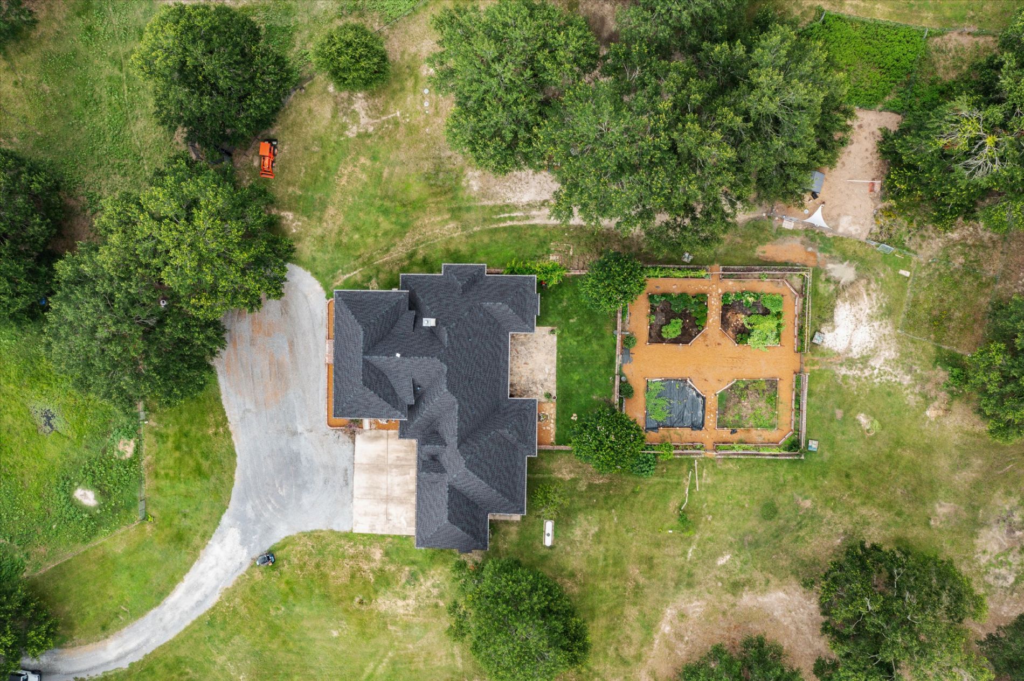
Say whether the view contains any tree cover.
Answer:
Yes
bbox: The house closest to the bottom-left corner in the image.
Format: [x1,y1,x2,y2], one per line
[333,264,539,553]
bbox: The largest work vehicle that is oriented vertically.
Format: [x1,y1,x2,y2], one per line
[256,134,280,179]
